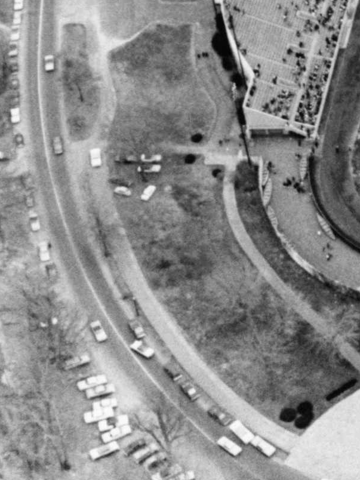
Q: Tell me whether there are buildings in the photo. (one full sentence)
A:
No, the scene contains no building.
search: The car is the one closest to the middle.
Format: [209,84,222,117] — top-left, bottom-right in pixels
[140,185,156,202]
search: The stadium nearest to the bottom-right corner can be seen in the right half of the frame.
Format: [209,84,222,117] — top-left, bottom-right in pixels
[154,146,360,366]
